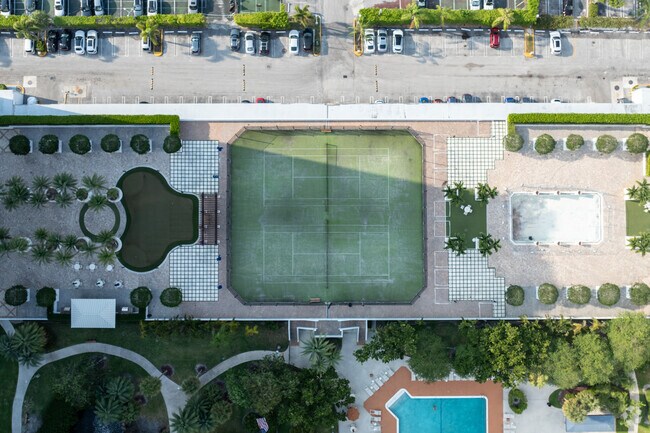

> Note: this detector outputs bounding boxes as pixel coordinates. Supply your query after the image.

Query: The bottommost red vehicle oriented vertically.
[488,26,500,50]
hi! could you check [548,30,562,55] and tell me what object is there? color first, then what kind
white vehicle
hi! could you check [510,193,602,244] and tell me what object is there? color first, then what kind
white swimming pool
